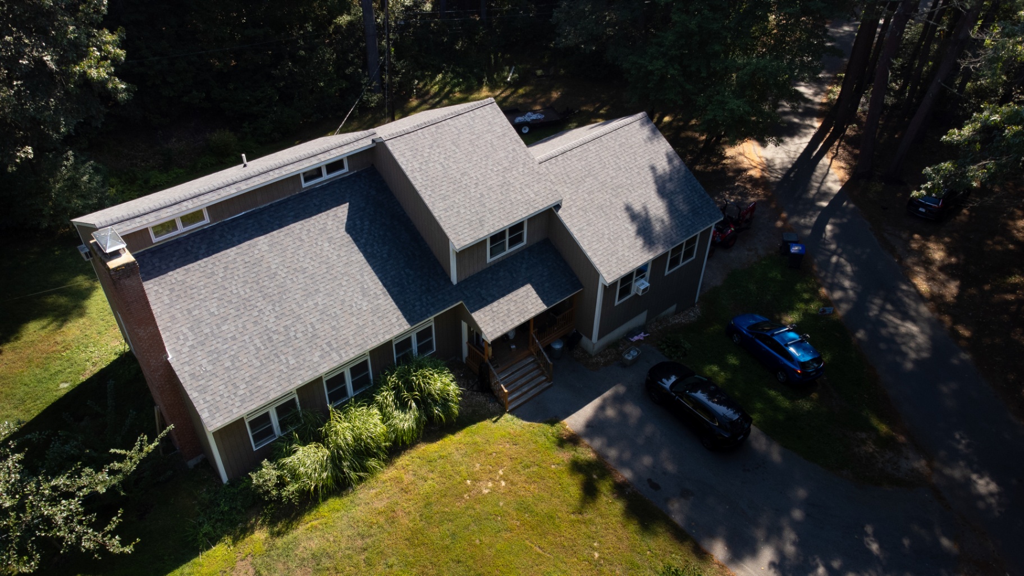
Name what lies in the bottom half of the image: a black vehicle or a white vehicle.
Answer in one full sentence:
Looking in the bottom half of the image, you will find a black vehicle.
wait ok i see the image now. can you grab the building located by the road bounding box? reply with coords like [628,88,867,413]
[71,97,723,491]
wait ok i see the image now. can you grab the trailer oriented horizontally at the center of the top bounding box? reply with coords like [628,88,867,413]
[502,103,580,137]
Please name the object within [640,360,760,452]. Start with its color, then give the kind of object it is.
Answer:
black car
